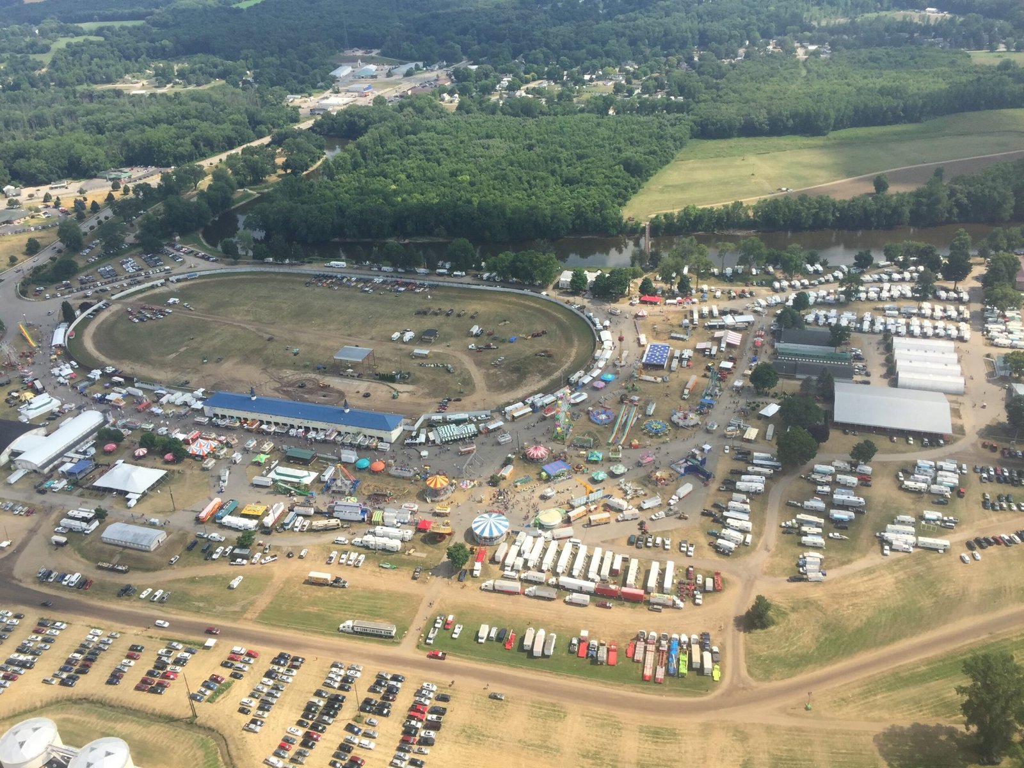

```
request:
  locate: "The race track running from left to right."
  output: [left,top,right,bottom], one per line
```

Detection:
[80,303,577,416]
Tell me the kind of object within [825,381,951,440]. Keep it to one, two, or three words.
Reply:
barn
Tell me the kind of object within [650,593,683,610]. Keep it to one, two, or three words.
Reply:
vehicle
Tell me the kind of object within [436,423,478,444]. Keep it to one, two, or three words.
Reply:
tent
